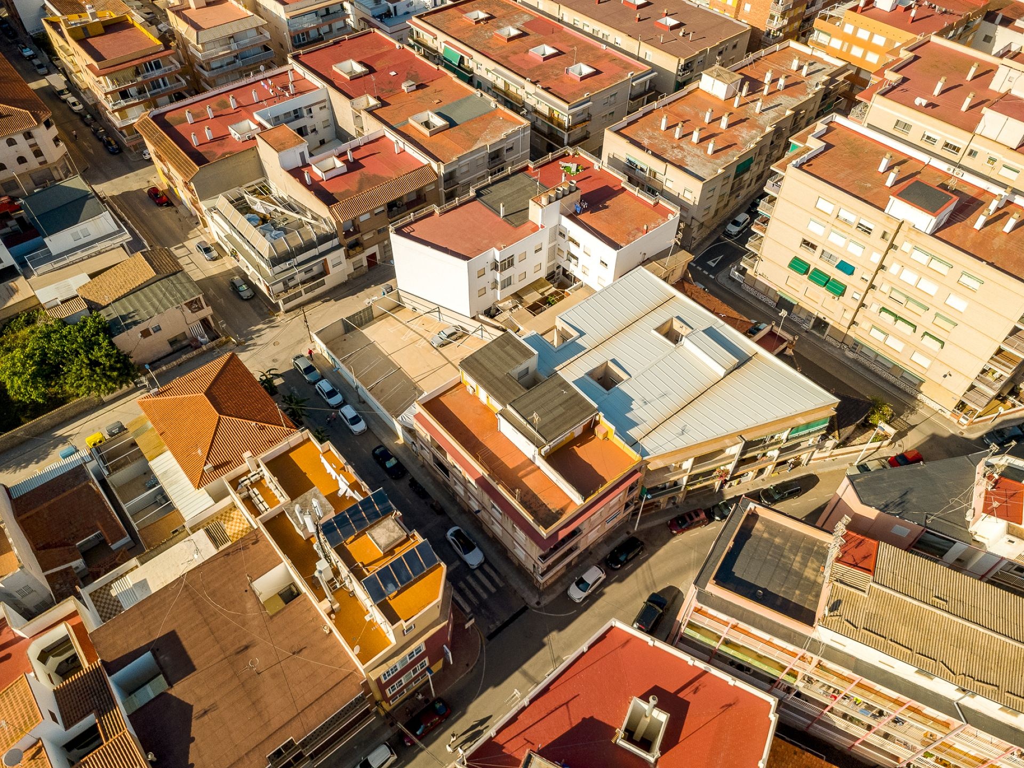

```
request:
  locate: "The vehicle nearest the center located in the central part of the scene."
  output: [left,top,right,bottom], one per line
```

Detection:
[429,323,465,349]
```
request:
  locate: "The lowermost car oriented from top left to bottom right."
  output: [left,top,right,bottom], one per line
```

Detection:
[442,522,487,571]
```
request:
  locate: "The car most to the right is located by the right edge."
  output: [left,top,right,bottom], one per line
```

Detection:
[980,418,1024,448]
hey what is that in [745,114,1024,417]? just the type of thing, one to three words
building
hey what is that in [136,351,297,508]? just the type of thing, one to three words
house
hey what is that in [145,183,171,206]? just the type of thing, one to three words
car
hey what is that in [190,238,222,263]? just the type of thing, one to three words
car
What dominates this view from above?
buildings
